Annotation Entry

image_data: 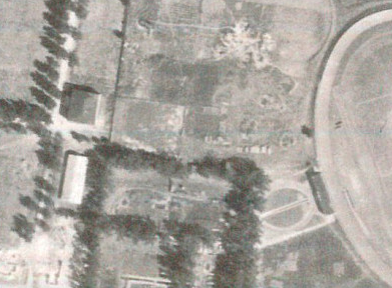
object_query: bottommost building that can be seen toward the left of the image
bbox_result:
[61,155,89,204]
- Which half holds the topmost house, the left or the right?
left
